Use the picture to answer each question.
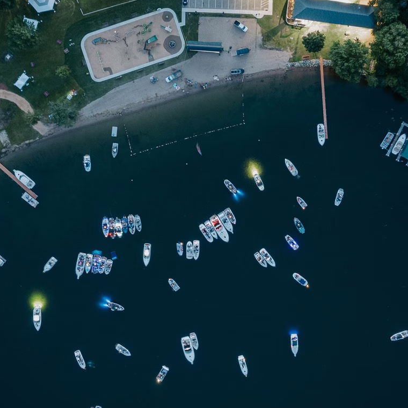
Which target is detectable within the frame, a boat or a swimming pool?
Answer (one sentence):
This aerial view contains a boat.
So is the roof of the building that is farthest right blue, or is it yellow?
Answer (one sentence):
From above, the roof of the building that is farthest right appears blue.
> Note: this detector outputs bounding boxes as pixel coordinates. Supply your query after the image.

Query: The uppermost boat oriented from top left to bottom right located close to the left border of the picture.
[14,170,37,190]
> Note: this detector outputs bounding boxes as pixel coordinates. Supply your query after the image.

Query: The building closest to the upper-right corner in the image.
[293,0,375,31]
